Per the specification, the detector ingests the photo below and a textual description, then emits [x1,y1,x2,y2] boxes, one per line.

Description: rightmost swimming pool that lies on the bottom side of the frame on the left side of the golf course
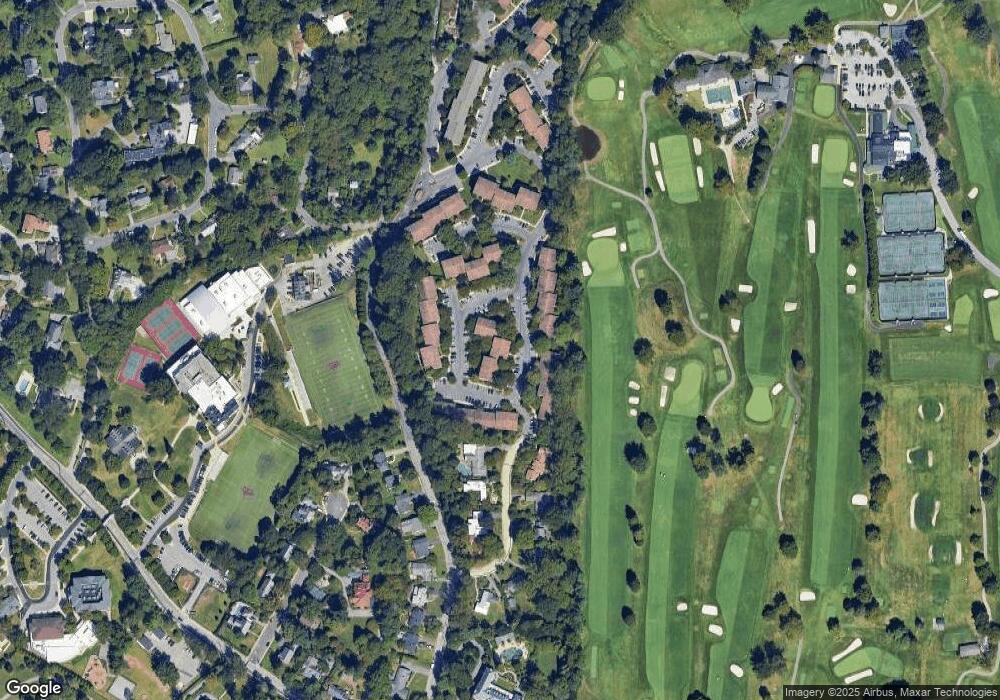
[497,641,528,664]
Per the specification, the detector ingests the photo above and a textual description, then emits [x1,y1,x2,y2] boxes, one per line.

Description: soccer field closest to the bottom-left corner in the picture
[191,423,300,551]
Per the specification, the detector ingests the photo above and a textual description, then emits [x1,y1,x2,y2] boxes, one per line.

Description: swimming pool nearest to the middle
[458,455,474,476]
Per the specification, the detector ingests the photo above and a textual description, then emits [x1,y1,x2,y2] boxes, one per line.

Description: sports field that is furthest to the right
[285,294,384,432]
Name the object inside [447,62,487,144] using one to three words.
building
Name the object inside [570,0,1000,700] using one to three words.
golf course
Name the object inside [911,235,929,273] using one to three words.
tennis court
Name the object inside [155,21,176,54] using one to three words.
house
